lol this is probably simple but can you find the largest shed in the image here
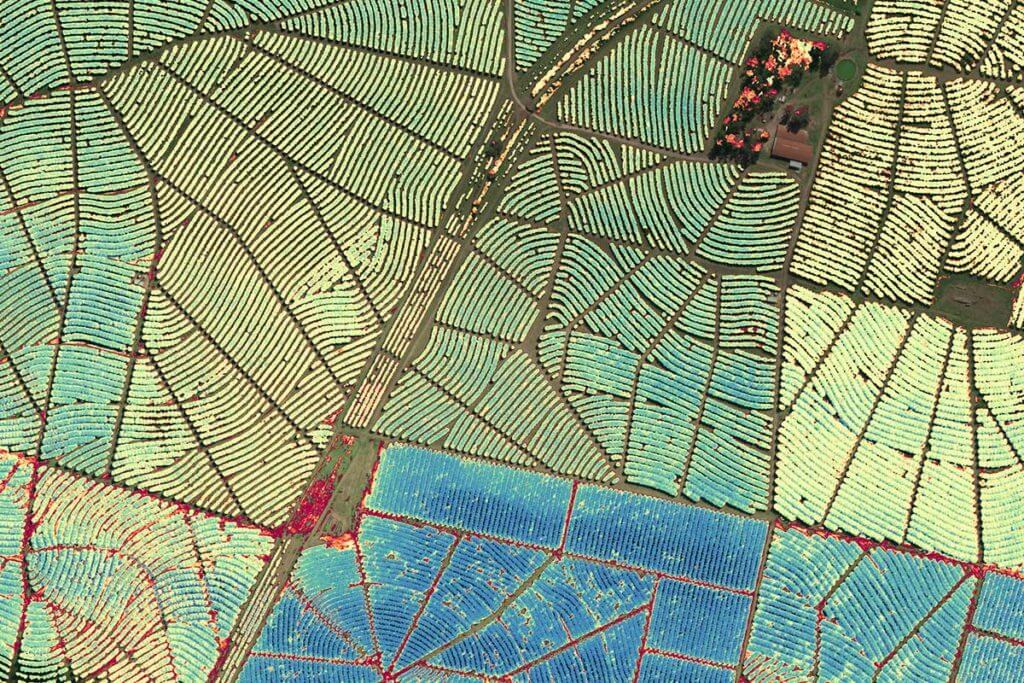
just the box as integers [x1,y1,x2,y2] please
[772,124,813,165]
